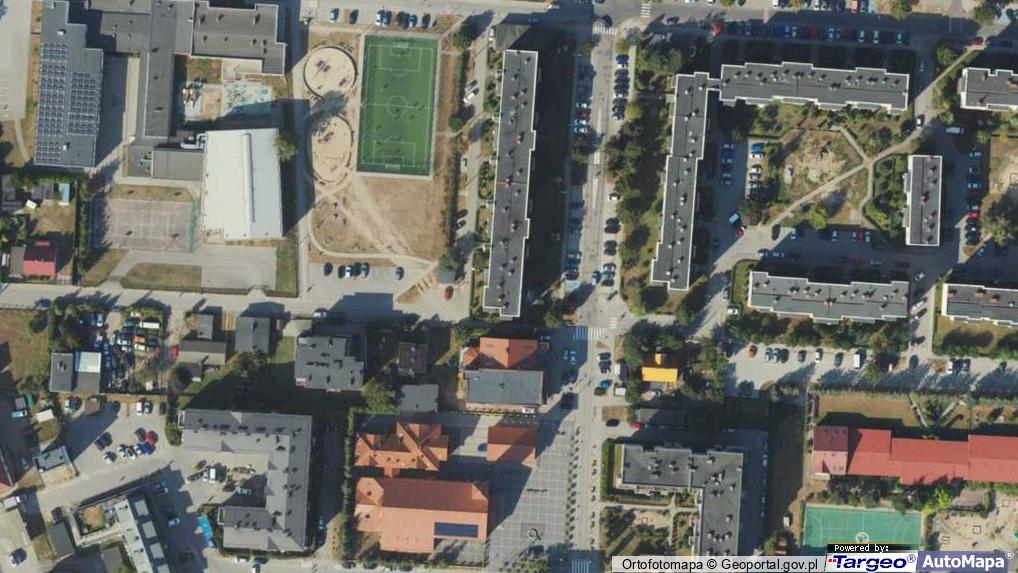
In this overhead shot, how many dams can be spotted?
none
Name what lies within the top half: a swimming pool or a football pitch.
football pitch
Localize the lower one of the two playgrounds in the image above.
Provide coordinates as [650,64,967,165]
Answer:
[309,114,353,184]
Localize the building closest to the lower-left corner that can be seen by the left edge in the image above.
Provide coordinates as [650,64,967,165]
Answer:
[0,507,32,557]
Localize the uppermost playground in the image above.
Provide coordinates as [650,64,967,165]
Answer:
[304,46,356,98]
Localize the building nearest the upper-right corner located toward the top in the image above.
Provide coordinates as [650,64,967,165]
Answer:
[955,68,1018,112]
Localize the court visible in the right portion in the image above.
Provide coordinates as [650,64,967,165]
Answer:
[797,503,924,573]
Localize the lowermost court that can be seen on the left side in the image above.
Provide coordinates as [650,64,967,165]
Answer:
[97,199,191,250]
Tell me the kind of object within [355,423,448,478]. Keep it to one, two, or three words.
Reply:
house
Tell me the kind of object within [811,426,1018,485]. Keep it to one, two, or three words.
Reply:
building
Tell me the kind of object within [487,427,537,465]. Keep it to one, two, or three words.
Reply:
building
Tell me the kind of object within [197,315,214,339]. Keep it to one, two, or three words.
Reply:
shed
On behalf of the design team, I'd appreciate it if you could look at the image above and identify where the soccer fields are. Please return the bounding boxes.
[353,31,442,179]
